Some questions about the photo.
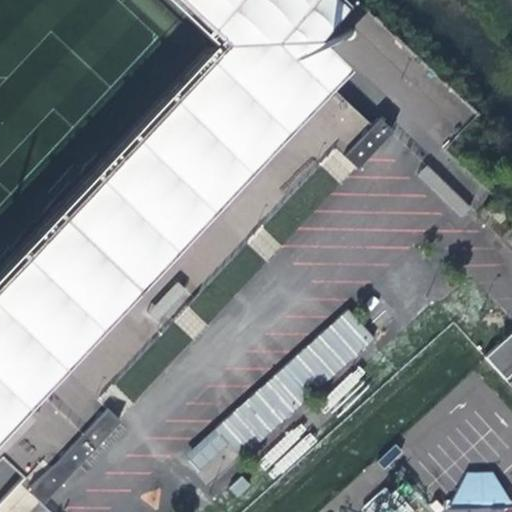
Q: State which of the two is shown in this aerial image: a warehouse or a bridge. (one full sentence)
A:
The image shows a warehouse.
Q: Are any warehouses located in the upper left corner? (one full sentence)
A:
No, in the upper left corner there is no warehouse.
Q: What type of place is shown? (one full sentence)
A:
The picture captures a sports ground.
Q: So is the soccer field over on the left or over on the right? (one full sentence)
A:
You can find the soccer field on the left side of the picture.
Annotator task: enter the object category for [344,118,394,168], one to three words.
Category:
building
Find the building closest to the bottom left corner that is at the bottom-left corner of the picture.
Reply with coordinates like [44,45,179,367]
[30,408,120,500]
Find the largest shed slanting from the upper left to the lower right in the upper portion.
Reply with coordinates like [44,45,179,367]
[418,166,472,218]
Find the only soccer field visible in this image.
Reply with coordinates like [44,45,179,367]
[0,0,189,230]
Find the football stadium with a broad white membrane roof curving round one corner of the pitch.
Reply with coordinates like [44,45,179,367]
[0,0,356,450]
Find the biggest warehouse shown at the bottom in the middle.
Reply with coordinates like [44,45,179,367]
[189,310,374,482]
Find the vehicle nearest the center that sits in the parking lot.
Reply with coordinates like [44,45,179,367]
[364,296,381,314]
